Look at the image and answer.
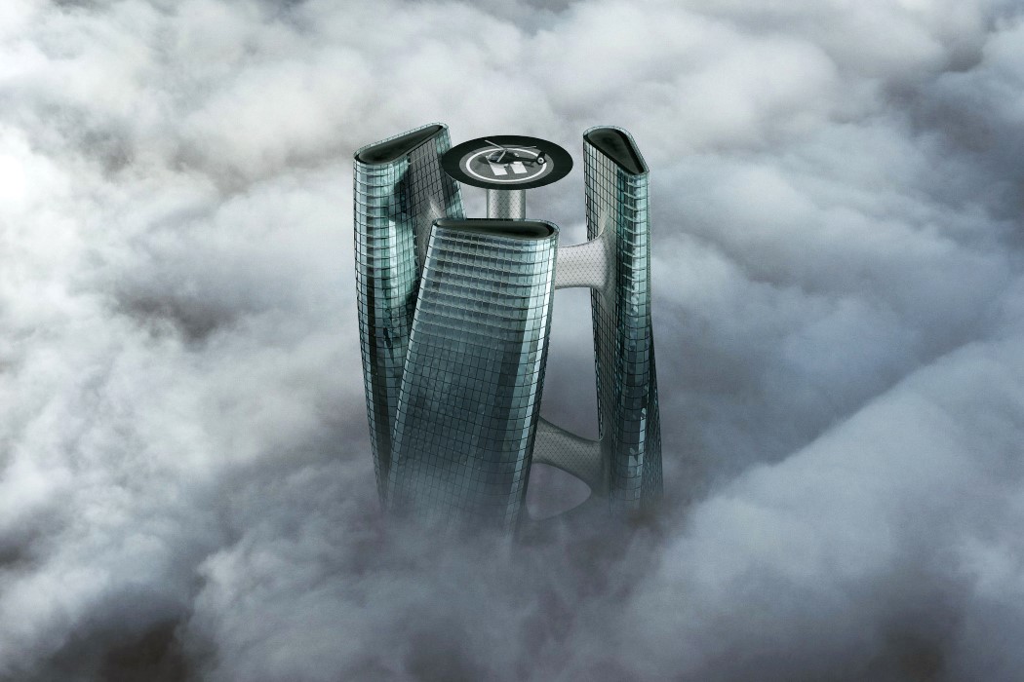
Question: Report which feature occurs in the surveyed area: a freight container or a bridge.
bridge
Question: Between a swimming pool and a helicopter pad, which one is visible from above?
helicopter pad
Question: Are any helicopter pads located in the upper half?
Yes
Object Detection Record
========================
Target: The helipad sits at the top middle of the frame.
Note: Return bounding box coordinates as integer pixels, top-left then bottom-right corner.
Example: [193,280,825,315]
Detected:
[440,135,574,218]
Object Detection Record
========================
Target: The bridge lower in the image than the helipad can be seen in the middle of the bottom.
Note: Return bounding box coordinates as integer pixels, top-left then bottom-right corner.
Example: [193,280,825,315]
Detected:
[485,411,615,612]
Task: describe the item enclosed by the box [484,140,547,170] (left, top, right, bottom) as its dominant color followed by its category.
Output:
black helicopter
